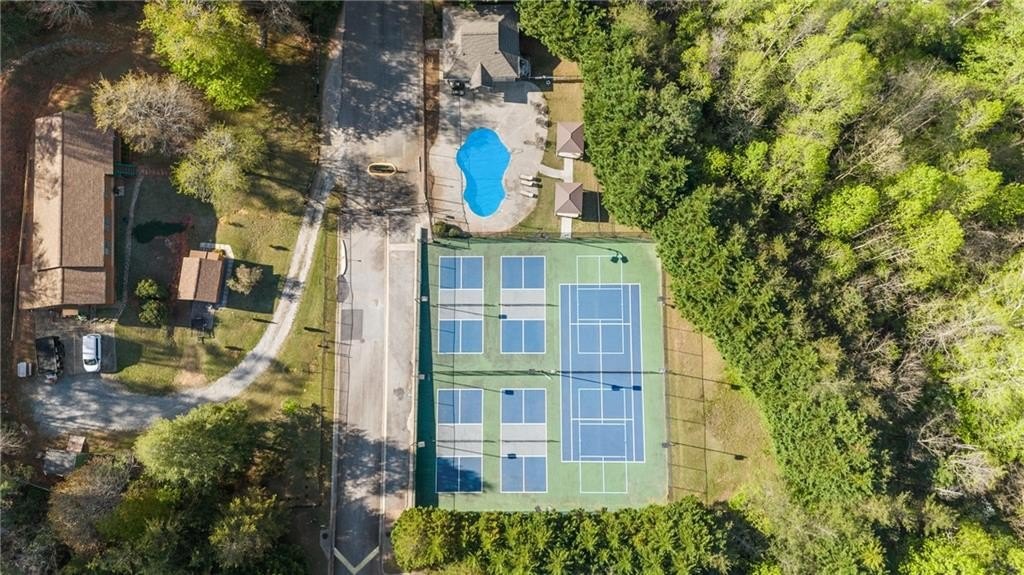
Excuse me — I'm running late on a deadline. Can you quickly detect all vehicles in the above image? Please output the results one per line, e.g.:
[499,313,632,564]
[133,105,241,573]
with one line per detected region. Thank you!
[37,337,61,380]
[80,334,102,374]
[14,361,33,378]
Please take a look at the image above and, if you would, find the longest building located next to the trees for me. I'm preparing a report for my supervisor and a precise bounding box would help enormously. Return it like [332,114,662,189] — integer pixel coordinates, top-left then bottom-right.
[17,112,125,315]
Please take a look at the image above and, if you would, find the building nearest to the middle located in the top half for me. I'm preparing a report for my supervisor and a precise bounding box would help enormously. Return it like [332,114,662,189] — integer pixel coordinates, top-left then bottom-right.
[555,183,582,217]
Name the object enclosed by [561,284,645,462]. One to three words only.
tennis court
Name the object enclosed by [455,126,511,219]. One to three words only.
swimming pool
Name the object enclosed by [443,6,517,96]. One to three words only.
building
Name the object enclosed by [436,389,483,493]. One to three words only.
sports court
